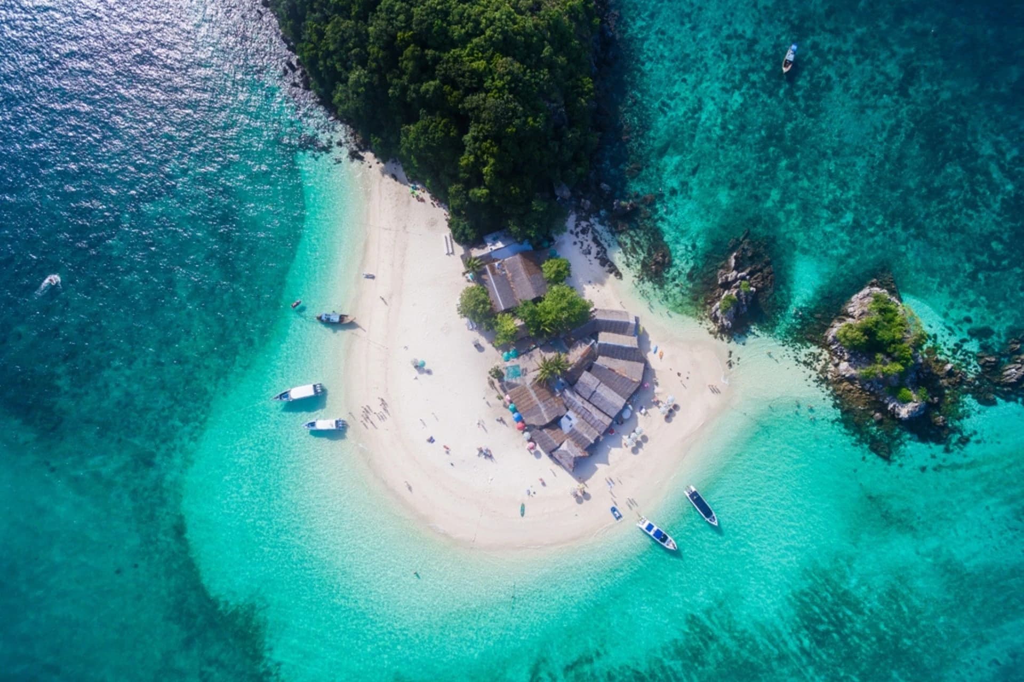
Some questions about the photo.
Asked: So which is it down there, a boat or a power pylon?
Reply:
boat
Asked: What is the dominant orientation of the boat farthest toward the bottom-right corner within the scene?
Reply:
diagonally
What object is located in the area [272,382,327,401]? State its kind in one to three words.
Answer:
boat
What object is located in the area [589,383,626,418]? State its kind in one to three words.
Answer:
shed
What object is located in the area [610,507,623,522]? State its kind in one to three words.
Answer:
boat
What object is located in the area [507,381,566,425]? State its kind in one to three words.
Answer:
building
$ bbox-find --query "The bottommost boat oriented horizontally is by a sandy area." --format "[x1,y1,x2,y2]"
[301,419,349,432]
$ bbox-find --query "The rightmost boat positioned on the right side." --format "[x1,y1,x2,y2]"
[783,40,800,72]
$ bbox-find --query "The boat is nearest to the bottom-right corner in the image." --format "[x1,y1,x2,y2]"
[684,485,718,527]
